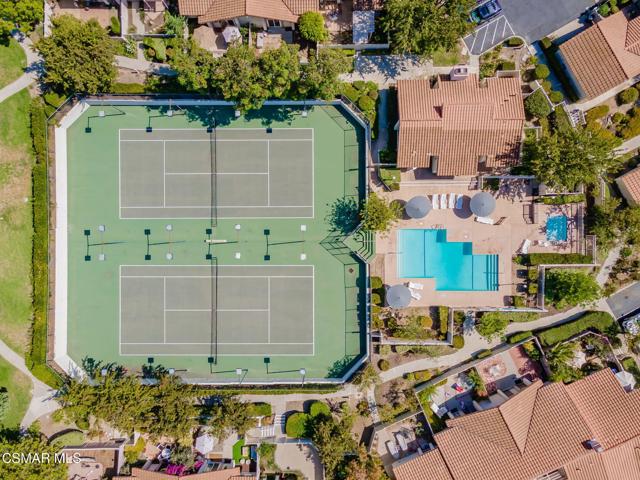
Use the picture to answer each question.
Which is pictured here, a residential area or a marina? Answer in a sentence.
What you see here is a residential area.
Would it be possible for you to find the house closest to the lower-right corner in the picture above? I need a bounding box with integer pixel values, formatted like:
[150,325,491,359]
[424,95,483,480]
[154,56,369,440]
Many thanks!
[392,366,640,480]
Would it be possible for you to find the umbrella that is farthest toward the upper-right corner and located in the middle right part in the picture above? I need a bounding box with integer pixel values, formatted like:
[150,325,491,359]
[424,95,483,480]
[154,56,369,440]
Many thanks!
[469,191,496,218]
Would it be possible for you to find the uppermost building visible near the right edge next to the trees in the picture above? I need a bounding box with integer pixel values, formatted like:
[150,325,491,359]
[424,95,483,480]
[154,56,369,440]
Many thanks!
[555,11,640,102]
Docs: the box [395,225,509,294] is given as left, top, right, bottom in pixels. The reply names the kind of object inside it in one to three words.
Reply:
swimming pool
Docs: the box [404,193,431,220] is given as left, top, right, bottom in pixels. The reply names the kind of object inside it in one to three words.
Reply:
umbrella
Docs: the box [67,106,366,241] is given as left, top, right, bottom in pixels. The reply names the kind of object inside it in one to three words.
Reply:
tennis court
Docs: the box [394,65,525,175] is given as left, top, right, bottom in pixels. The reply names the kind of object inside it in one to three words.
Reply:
building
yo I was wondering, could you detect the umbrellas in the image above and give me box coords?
[196,432,216,452]
[469,191,496,218]
[222,24,239,45]
[193,28,218,51]
[404,193,431,220]
[386,283,411,309]
[144,440,159,456]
